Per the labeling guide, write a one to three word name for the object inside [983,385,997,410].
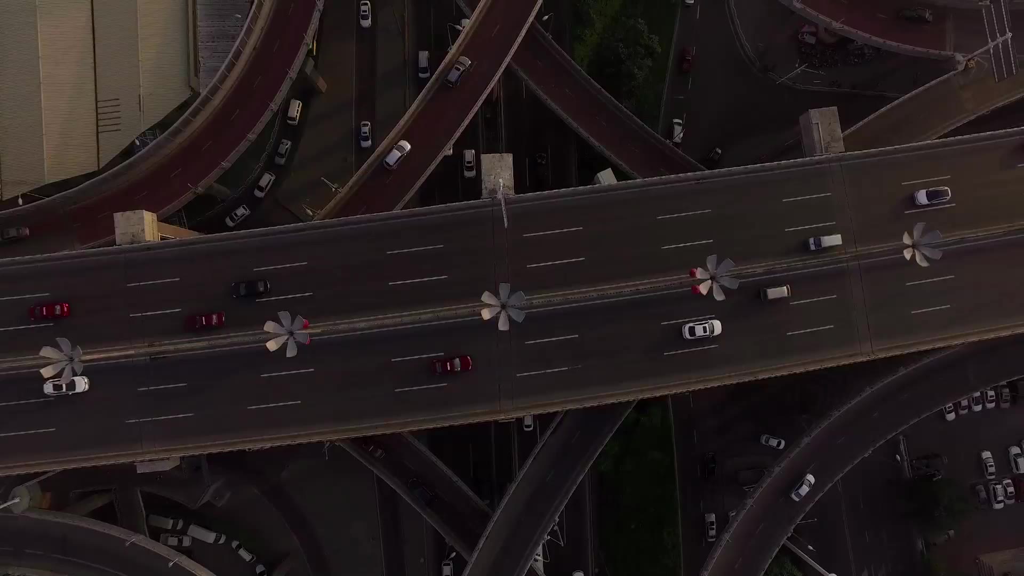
car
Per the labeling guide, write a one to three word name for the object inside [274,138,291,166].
car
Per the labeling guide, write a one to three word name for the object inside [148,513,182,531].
vehicle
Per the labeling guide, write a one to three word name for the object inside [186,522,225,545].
vehicle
